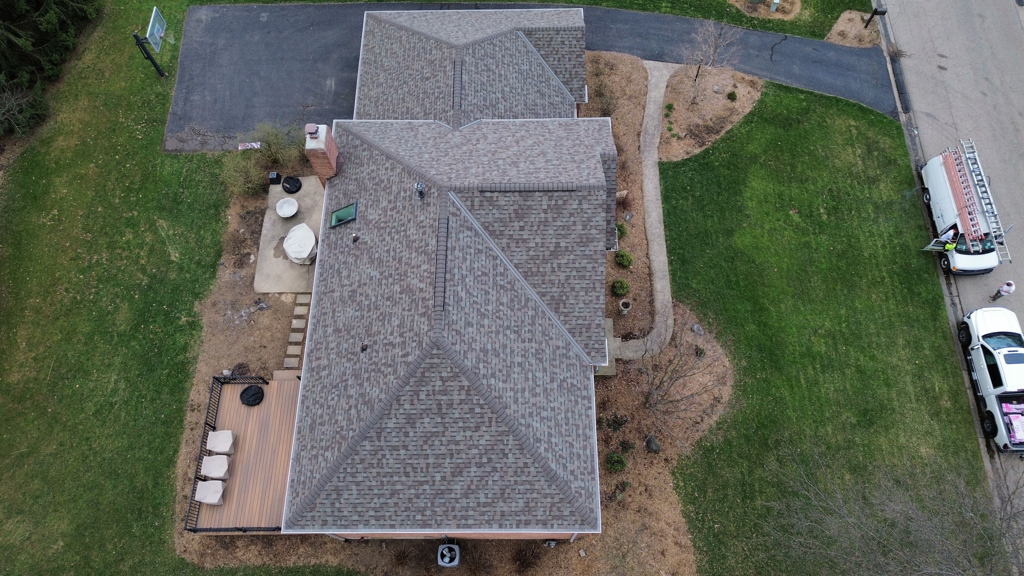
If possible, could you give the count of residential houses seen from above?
1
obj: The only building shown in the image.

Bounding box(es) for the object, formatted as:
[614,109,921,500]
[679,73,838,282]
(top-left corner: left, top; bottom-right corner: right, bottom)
[281,9,618,545]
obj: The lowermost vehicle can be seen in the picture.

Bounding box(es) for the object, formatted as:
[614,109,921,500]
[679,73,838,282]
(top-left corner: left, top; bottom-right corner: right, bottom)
[957,309,1024,461]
